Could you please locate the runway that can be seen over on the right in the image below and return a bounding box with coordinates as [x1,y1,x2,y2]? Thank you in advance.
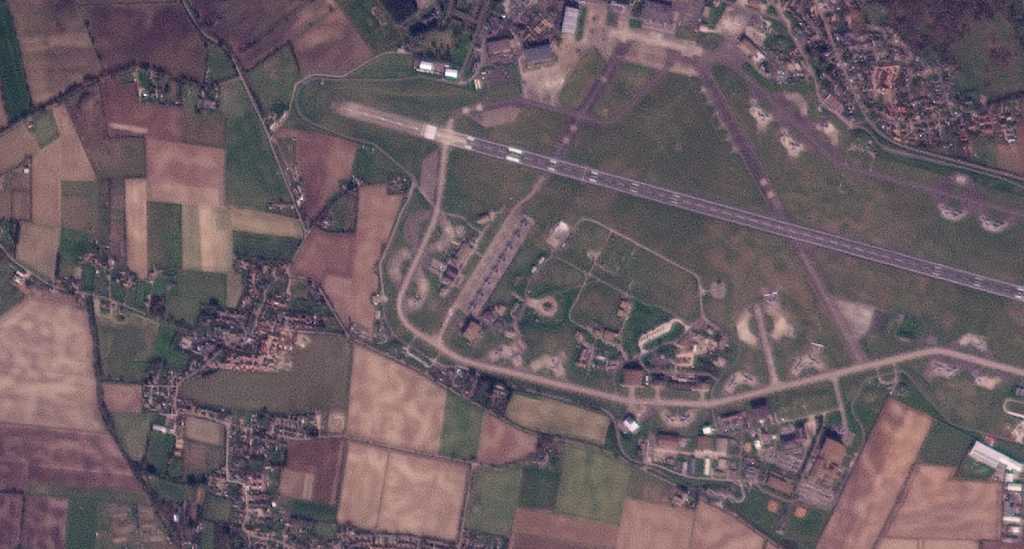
[357,112,1024,301]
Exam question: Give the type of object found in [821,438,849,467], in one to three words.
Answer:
hangar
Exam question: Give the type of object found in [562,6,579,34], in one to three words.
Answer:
hangar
